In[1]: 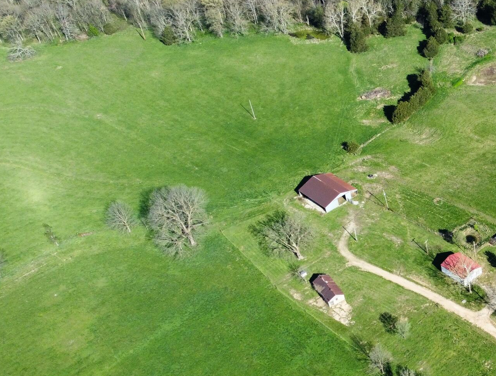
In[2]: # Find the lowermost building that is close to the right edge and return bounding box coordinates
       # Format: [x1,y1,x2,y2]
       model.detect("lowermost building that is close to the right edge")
[437,253,482,287]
